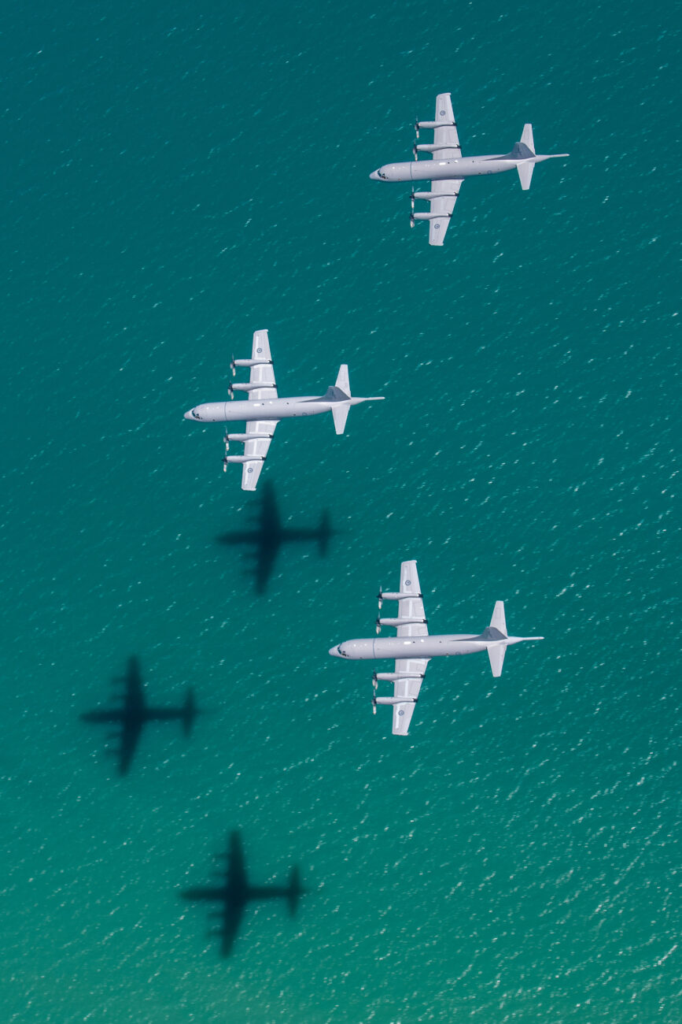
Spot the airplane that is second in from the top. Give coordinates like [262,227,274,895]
[185,329,384,492]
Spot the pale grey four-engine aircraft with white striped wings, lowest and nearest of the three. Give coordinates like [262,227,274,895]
[329,558,544,738]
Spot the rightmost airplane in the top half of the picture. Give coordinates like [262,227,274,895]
[370,92,569,246]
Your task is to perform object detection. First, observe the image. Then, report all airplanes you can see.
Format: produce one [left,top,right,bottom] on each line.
[370,92,569,246]
[329,558,544,738]
[185,329,384,492]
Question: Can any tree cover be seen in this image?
No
